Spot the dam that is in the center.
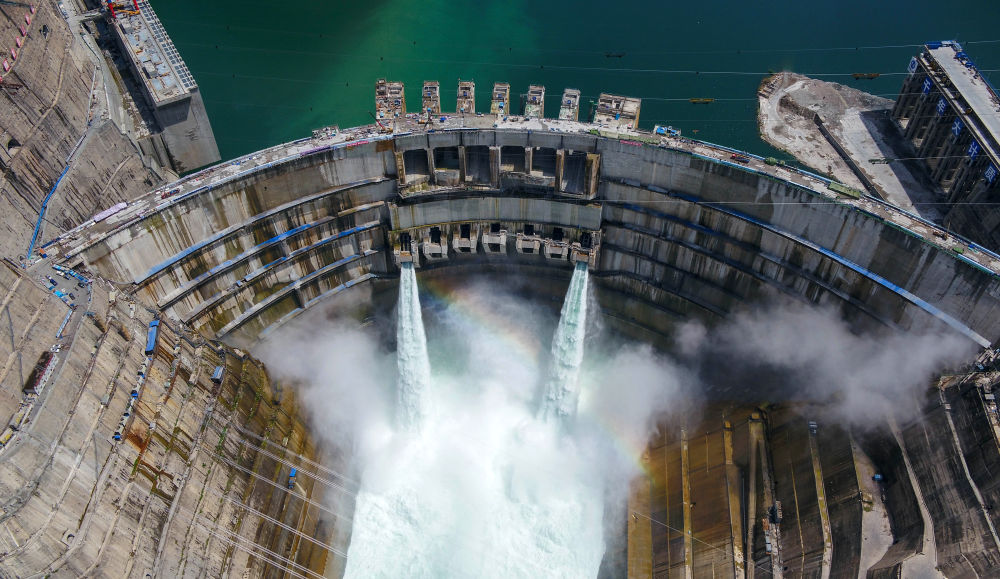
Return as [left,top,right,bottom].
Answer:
[27,80,1000,406]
